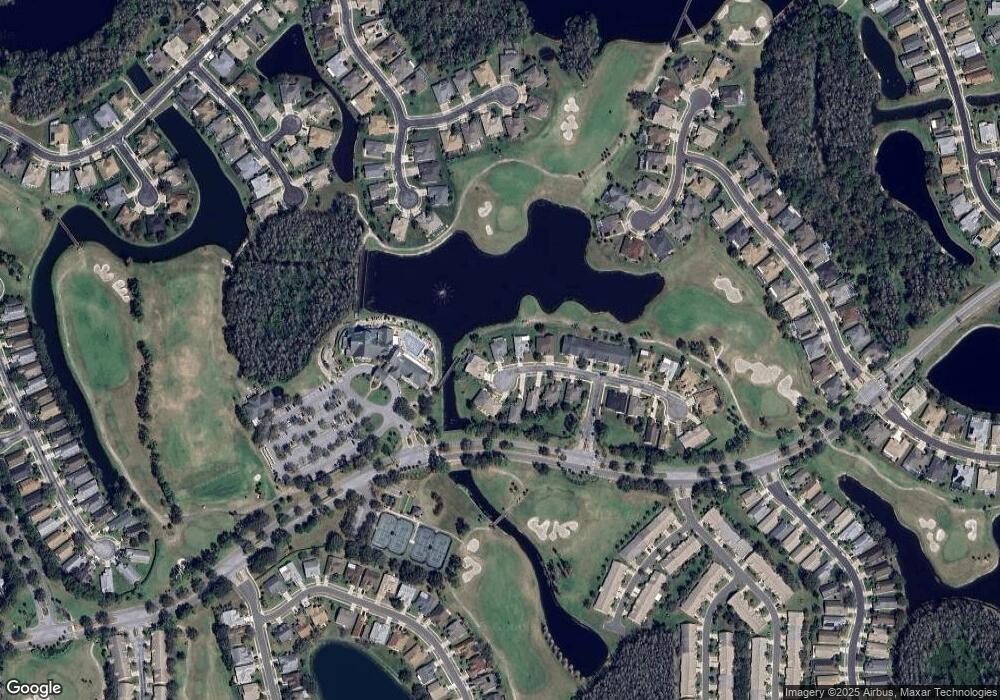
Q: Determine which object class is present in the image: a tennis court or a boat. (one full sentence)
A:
The one in the frame is a tennis court.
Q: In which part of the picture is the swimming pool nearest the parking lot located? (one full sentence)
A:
Look in the center portion of the view to spot the swimming pool nearest the parking lot.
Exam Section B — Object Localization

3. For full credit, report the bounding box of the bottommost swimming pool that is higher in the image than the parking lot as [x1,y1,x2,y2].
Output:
[394,322,439,362]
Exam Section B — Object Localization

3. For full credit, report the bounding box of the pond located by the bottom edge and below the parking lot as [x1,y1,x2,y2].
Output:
[312,640,410,700]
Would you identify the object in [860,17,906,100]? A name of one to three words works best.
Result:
pond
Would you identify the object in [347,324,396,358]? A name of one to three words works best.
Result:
building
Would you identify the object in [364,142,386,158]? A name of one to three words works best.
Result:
house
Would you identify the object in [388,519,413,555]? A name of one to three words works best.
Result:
tennis court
